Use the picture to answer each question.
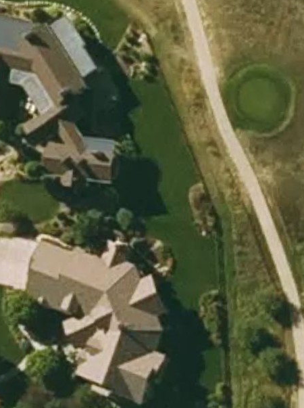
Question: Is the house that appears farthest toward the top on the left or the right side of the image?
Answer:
left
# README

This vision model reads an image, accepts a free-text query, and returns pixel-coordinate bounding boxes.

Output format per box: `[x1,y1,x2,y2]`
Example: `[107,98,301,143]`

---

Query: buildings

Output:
[26,240,167,405]
[0,15,97,136]
[40,113,116,188]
